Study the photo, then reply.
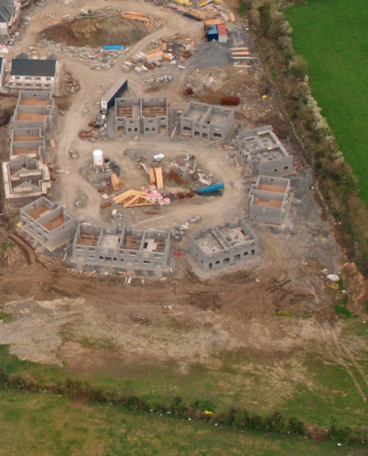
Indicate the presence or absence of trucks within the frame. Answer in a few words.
Yes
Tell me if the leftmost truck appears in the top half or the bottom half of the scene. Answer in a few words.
top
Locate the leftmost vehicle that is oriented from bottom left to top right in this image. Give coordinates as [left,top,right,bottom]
[93,79,127,122]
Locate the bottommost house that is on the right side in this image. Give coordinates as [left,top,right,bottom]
[181,218,265,274]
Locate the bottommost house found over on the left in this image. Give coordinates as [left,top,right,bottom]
[69,224,174,270]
